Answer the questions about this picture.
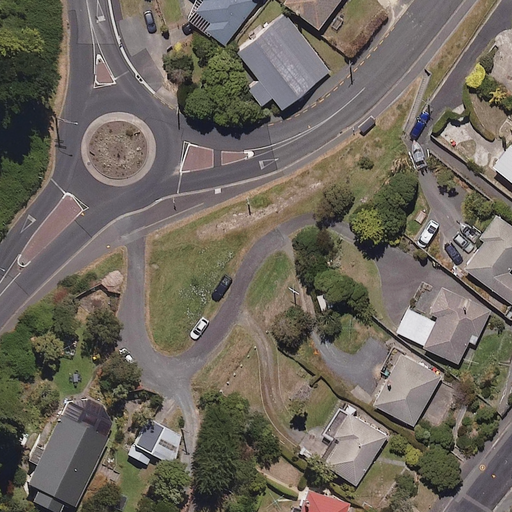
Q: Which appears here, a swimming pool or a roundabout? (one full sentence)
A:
Visible in the photo is a roundabout.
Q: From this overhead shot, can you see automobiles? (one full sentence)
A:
Yes, there is an automobile in the image.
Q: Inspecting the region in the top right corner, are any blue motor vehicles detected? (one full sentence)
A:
Yes, you'll find a blue motor vehicle in the top right corner.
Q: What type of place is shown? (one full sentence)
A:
The picture captures a residential area.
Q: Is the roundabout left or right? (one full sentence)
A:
It is on the left.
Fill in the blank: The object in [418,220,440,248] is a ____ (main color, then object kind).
white car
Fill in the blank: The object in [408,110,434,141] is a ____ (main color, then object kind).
blue truck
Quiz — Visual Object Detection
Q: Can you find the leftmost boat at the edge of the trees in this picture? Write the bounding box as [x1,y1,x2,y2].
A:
[412,139,426,168]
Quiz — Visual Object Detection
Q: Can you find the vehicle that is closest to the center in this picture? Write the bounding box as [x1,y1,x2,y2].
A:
[212,274,233,302]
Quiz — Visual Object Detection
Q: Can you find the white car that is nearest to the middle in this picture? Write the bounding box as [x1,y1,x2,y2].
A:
[190,316,210,342]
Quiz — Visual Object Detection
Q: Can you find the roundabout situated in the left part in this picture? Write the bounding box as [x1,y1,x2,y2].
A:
[80,112,156,186]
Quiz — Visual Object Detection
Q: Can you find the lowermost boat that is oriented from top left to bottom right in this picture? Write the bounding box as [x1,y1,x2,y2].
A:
[460,223,481,243]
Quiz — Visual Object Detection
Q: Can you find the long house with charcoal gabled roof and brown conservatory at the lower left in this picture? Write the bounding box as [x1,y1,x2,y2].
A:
[23,400,112,512]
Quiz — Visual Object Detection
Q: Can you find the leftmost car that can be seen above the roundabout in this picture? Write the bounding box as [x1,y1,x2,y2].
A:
[142,8,156,34]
